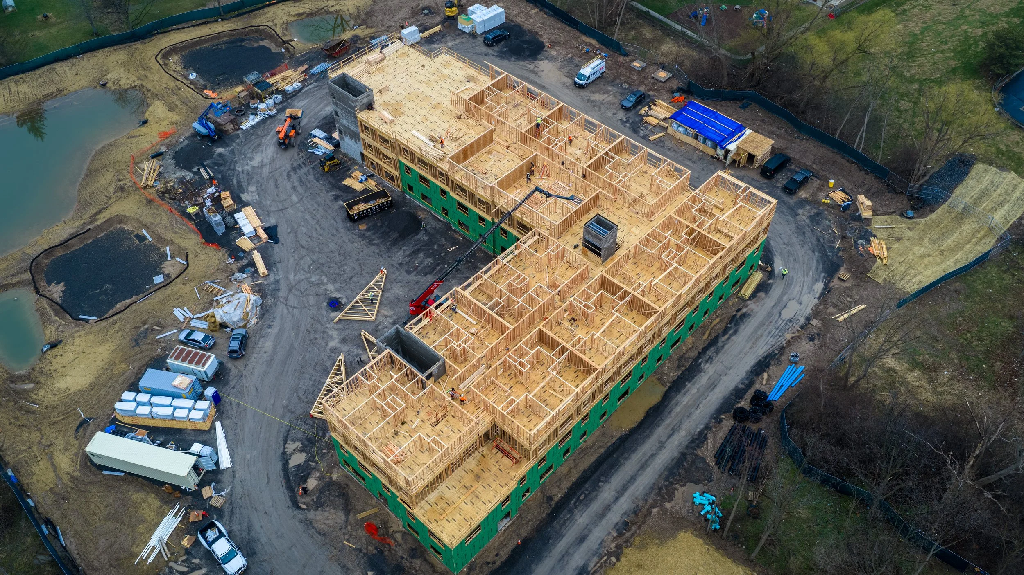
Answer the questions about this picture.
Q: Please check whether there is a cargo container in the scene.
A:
Yes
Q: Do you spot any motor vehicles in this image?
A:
Yes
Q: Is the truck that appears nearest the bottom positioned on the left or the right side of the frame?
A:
left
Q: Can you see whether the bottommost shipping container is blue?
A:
No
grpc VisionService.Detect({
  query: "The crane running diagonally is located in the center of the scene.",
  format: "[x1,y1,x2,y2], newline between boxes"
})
[398,184,582,331]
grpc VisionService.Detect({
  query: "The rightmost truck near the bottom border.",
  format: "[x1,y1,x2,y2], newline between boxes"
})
[203,520,246,575]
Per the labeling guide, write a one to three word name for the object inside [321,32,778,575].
building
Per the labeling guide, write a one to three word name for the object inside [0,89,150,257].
pond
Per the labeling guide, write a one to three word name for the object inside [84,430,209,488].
shipping container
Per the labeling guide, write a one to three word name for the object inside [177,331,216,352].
car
